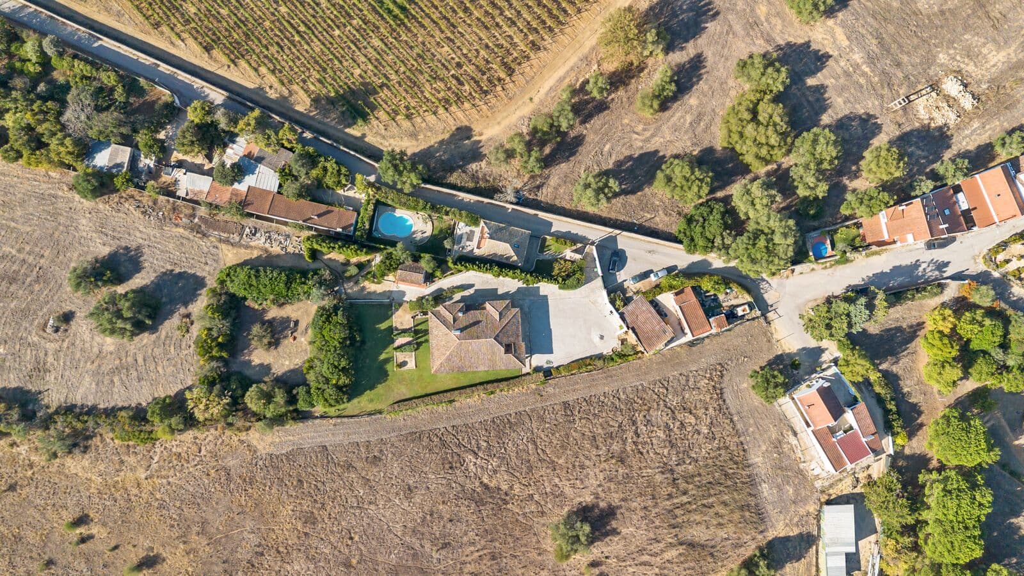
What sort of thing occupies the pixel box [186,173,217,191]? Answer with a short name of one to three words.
shed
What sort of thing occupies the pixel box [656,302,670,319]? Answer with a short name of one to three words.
car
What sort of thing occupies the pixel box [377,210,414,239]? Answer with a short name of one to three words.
swimming pool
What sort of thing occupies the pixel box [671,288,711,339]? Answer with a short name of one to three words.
house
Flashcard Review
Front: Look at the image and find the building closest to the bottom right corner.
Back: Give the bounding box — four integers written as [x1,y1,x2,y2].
[818,500,855,576]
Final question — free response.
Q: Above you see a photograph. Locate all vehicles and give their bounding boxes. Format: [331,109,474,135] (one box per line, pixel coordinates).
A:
[925,239,944,249]
[611,251,622,272]
[631,271,649,282]
[656,302,670,319]
[650,268,668,279]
